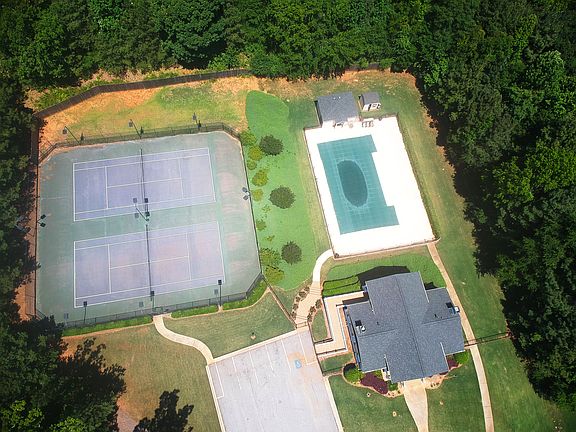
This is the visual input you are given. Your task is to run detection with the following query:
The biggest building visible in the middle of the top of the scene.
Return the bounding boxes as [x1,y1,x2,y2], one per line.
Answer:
[315,93,359,129]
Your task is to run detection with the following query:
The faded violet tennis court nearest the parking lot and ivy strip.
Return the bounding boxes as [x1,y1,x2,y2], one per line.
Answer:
[74,221,226,308]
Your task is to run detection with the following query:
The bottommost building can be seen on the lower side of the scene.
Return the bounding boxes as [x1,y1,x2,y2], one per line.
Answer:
[343,272,466,383]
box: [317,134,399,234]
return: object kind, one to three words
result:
swimming pool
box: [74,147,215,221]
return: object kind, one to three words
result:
tennis court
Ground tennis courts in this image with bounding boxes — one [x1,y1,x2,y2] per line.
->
[74,147,215,221]
[74,221,226,308]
